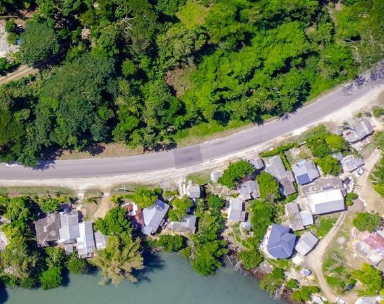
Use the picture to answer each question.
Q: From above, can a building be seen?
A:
Yes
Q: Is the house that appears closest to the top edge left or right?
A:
right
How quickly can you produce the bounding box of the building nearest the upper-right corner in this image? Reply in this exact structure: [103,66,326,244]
[341,119,374,143]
